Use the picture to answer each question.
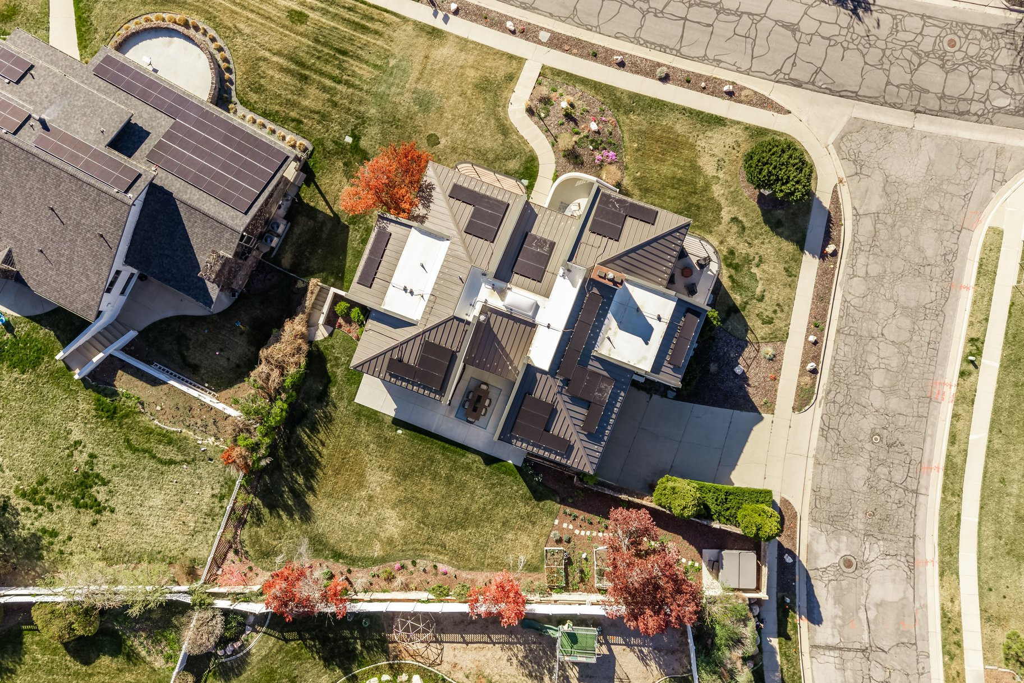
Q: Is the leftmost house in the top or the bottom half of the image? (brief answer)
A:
top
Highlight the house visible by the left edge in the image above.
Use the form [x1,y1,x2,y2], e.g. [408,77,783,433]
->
[0,19,312,328]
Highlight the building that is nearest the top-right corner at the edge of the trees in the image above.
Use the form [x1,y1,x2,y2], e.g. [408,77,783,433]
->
[345,162,712,475]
